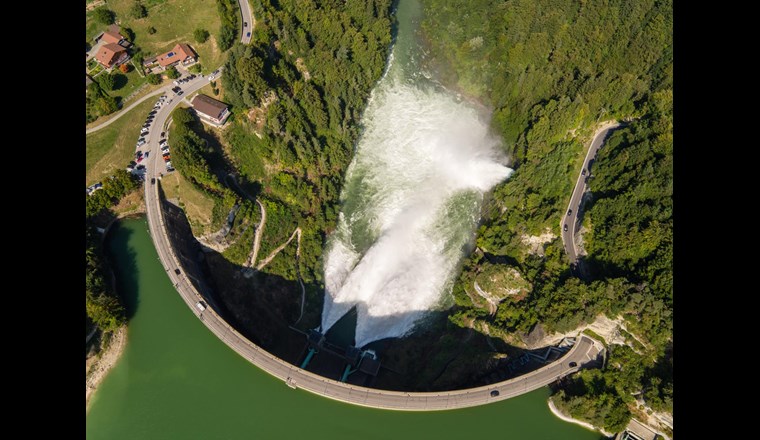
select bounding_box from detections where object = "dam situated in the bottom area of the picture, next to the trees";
[145,174,583,411]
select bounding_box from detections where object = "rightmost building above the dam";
[194,94,233,128]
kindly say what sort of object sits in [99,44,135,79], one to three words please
house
